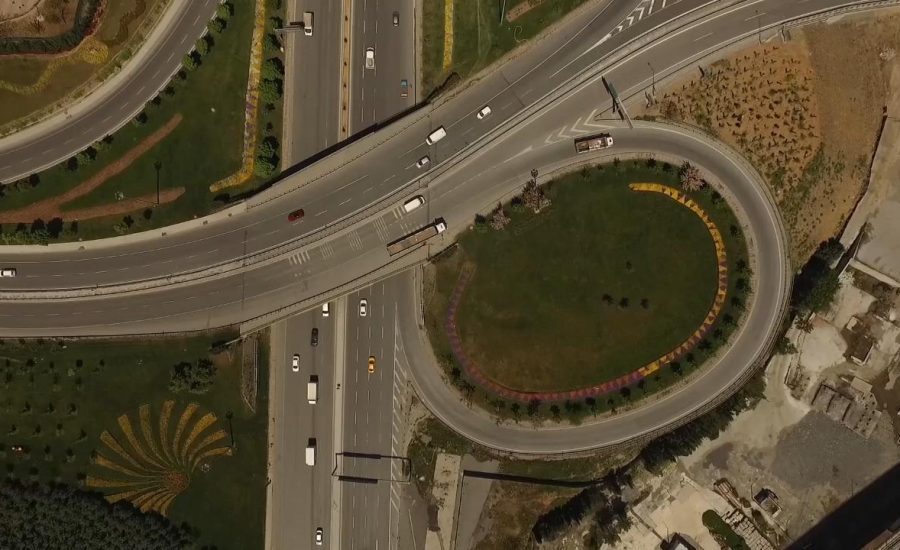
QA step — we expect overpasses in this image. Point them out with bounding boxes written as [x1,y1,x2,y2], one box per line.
[243,99,432,334]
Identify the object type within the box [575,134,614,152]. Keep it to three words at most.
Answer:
vehicle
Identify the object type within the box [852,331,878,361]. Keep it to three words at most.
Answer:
shed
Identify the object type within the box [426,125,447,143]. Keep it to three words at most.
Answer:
vehicle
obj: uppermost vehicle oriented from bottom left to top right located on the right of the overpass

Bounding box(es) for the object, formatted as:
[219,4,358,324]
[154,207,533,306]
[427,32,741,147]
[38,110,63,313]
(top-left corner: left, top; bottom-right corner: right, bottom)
[475,105,492,119]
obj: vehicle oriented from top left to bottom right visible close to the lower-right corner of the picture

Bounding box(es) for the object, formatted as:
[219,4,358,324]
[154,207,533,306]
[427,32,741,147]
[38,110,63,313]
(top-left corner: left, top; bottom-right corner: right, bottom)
[757,490,782,517]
